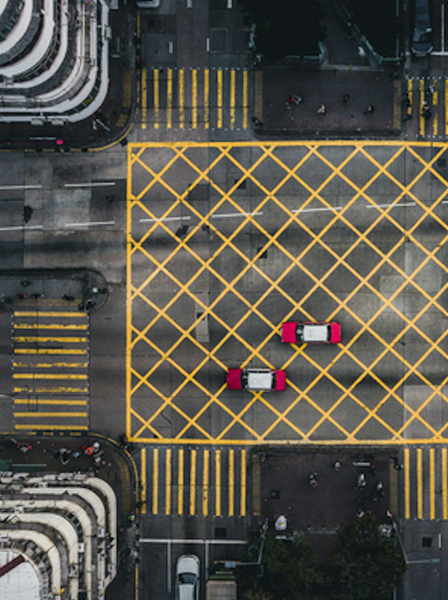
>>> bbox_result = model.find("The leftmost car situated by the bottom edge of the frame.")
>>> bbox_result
[174,551,200,600]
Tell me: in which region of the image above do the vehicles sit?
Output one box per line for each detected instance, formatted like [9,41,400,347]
[137,0,161,10]
[208,551,240,600]
[225,365,288,393]
[280,319,343,347]
[174,551,200,600]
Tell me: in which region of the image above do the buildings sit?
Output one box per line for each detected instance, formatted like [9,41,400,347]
[0,0,118,130]
[0,468,124,600]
